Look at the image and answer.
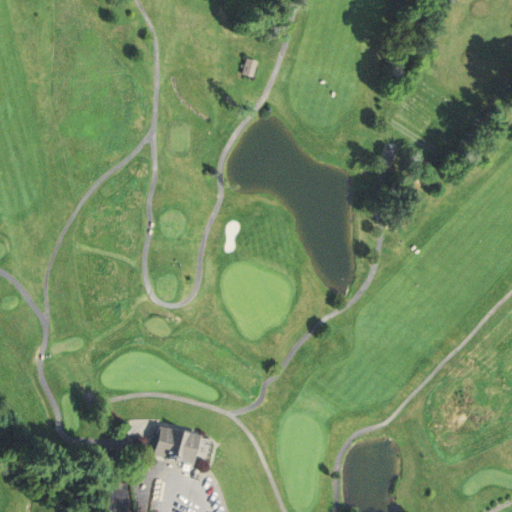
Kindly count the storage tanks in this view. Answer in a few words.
zero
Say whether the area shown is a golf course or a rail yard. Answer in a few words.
golf course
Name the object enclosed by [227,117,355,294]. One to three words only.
pond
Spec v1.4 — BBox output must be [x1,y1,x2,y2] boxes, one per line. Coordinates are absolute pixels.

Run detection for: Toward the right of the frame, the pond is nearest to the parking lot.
[343,438,400,512]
